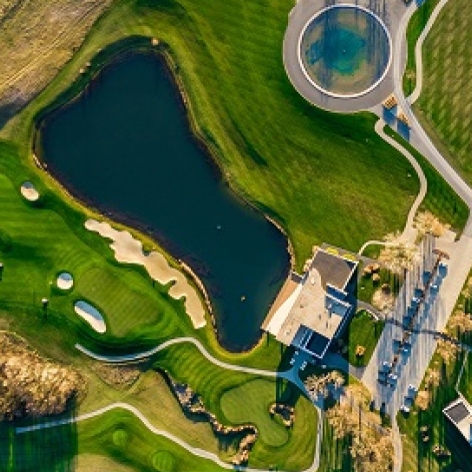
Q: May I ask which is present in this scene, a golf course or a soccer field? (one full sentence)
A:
Looking from above, you can make out a golf course.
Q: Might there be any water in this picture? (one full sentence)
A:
Yes, the picture does contain water.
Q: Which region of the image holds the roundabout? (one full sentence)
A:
You can find the roundabout in the top right area of the picture.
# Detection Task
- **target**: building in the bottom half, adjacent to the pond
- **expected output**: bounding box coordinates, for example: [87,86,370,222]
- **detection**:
[261,249,359,359]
